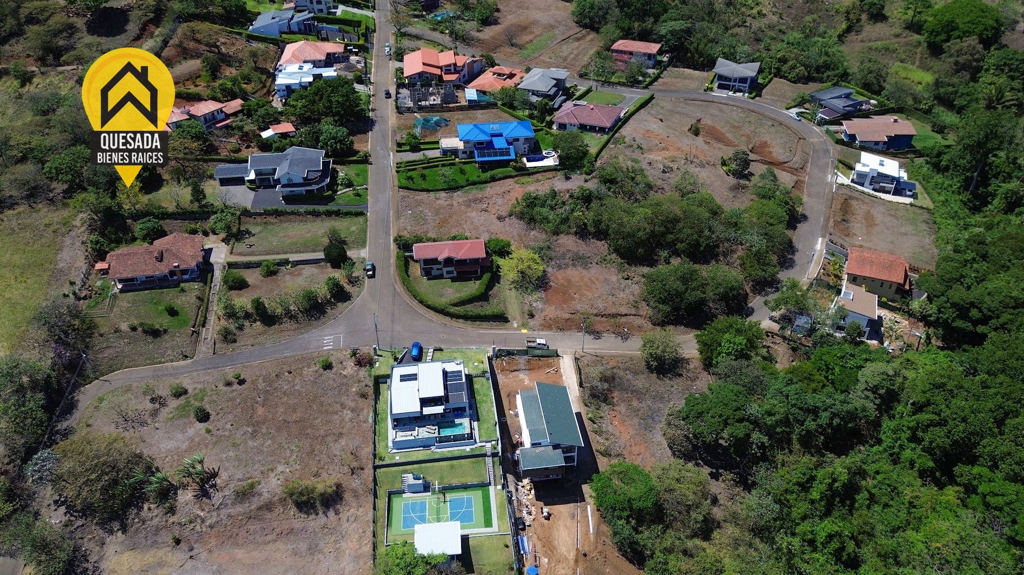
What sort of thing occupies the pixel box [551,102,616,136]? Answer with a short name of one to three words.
house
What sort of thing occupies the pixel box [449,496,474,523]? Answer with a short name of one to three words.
sports court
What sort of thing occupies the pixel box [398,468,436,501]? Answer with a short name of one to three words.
shed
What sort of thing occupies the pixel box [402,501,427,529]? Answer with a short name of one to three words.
sports court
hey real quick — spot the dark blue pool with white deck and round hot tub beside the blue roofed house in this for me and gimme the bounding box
[522,149,556,167]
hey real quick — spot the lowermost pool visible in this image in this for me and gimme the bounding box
[437,420,465,432]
